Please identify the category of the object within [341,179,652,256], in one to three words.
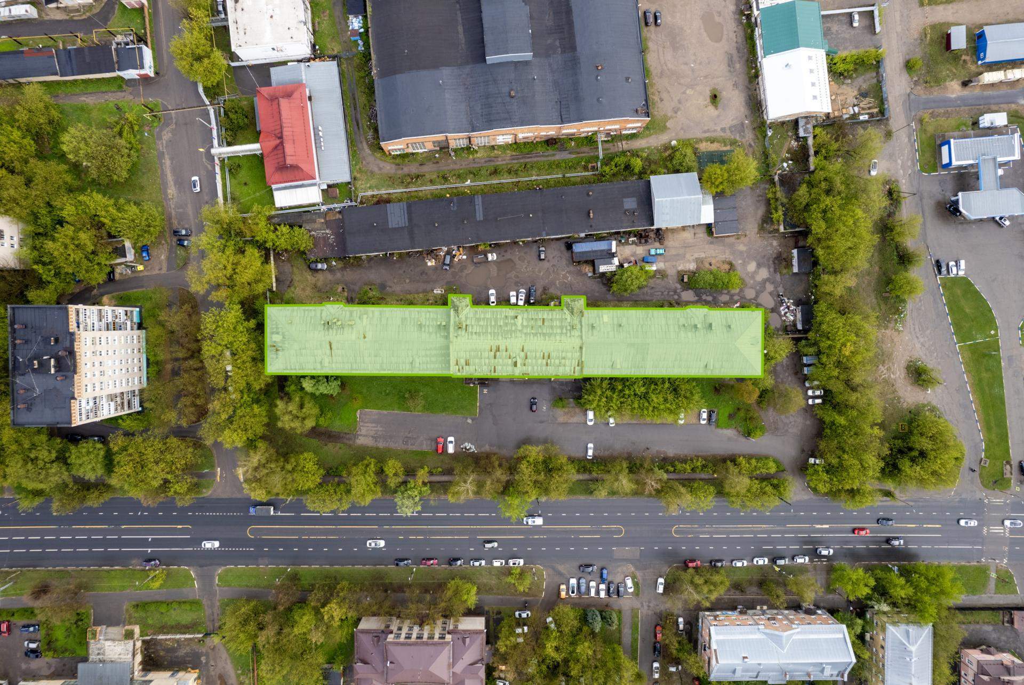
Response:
shed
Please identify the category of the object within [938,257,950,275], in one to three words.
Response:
vehicle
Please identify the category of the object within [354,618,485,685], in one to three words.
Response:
building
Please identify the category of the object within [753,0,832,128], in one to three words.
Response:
building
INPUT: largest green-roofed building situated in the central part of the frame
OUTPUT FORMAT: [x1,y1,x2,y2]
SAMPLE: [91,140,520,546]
[263,293,766,380]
